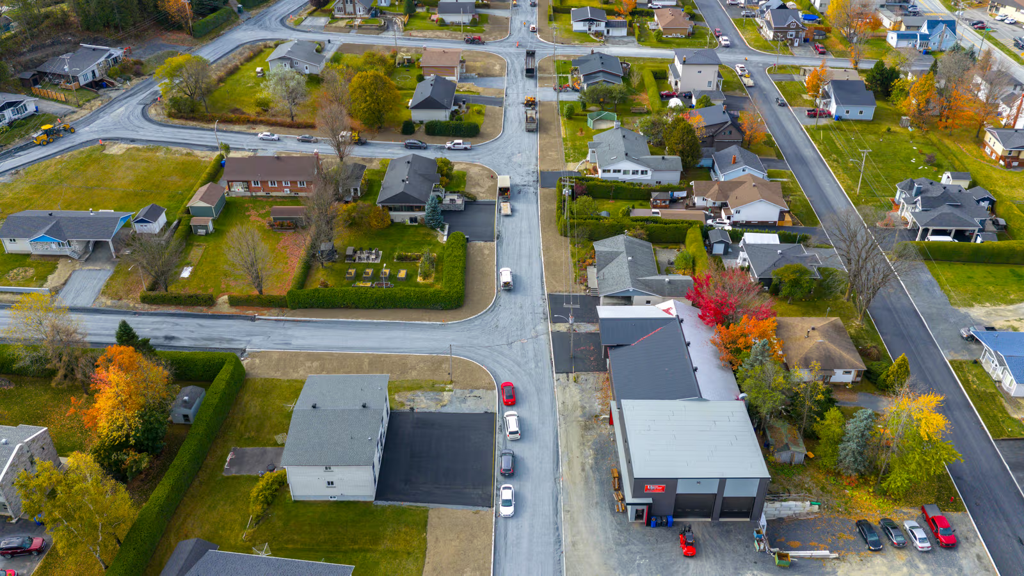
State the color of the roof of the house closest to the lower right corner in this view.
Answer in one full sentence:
The roof of the house closest to the lower right corner is blue.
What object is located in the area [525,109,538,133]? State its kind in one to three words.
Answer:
vehicle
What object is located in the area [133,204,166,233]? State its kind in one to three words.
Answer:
shed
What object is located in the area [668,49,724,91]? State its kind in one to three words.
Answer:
house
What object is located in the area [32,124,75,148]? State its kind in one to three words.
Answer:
work vehicle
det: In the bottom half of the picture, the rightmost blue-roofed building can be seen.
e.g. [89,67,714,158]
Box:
[967,329,1024,403]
